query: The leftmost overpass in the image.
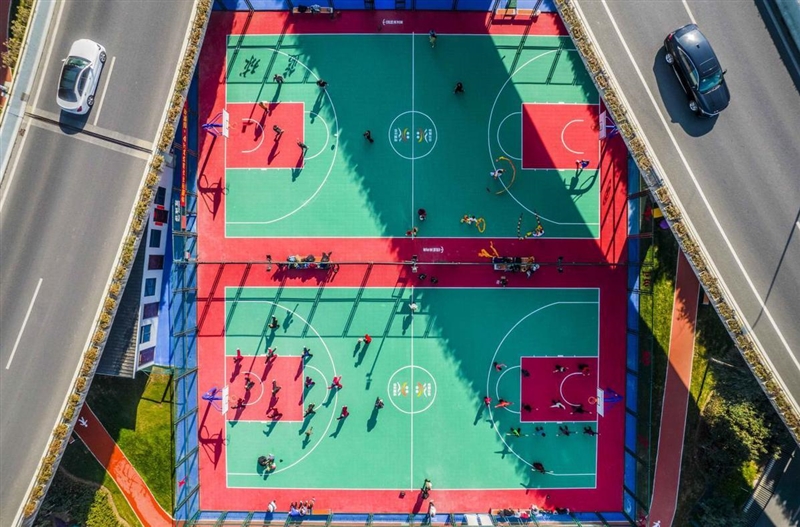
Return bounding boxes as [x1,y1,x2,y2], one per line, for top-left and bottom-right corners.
[0,0,216,527]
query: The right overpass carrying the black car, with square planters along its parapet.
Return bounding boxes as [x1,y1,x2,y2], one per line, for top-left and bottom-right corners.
[548,0,800,451]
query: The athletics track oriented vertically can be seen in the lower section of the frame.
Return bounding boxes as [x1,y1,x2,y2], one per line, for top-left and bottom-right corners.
[647,247,700,527]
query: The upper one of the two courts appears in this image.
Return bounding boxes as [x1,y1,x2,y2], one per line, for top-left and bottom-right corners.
[224,31,601,242]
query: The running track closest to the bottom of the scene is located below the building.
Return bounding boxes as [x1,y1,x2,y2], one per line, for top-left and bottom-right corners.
[73,401,642,527]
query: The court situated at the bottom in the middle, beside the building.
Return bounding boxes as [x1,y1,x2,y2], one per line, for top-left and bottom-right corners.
[224,283,599,493]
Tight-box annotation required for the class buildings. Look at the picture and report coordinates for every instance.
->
[94,155,172,379]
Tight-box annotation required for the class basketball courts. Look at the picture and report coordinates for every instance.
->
[224,31,601,242]
[224,283,599,493]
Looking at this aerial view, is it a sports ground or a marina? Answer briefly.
sports ground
